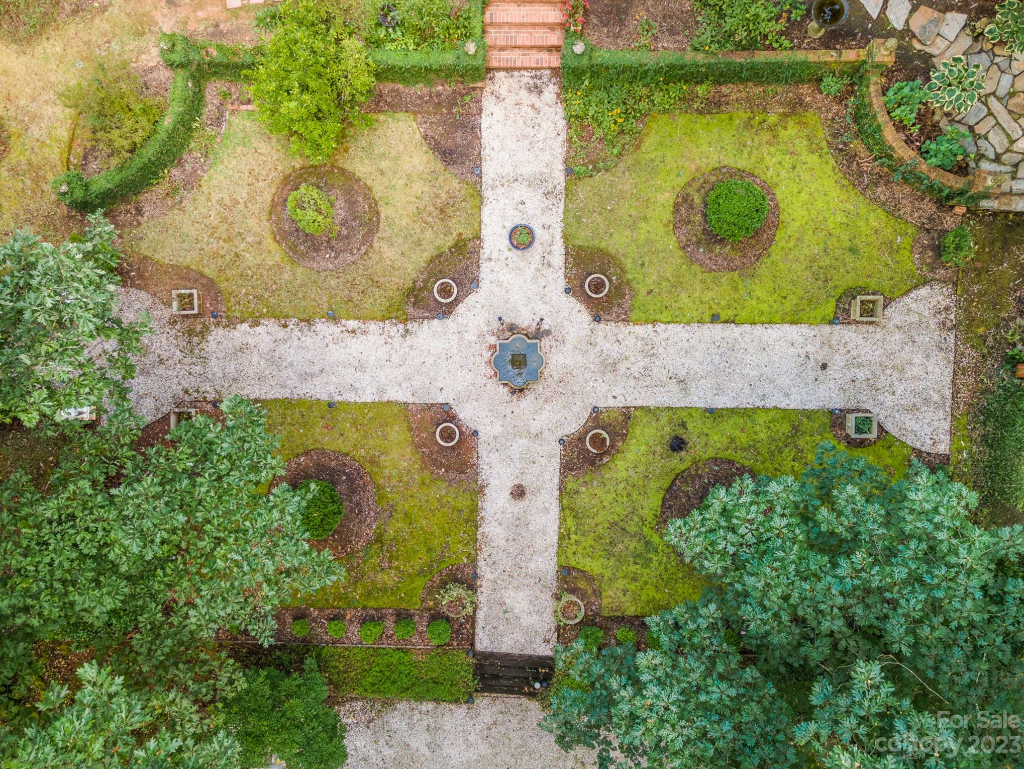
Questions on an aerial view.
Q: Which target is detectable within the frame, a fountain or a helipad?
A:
fountain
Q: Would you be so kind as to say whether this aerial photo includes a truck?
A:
No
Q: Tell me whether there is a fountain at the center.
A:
Yes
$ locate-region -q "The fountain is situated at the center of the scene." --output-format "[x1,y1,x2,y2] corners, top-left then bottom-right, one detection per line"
[491,335,545,389]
